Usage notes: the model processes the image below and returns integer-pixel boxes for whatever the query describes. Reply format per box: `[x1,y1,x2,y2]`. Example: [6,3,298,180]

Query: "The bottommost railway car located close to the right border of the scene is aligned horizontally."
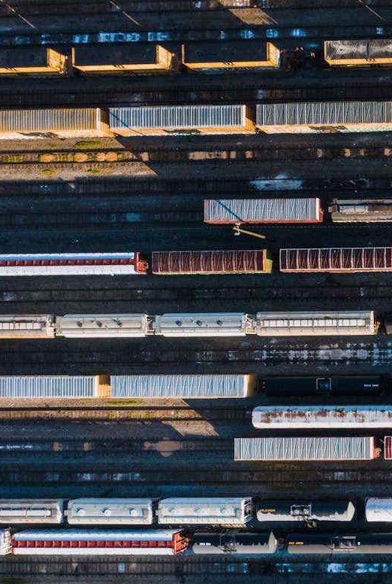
[286,526,392,555]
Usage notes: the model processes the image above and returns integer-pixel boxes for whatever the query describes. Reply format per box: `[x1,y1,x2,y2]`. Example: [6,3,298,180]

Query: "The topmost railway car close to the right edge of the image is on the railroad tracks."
[256,101,392,134]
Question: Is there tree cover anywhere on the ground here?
No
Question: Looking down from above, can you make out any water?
No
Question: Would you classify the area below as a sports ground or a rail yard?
rail yard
